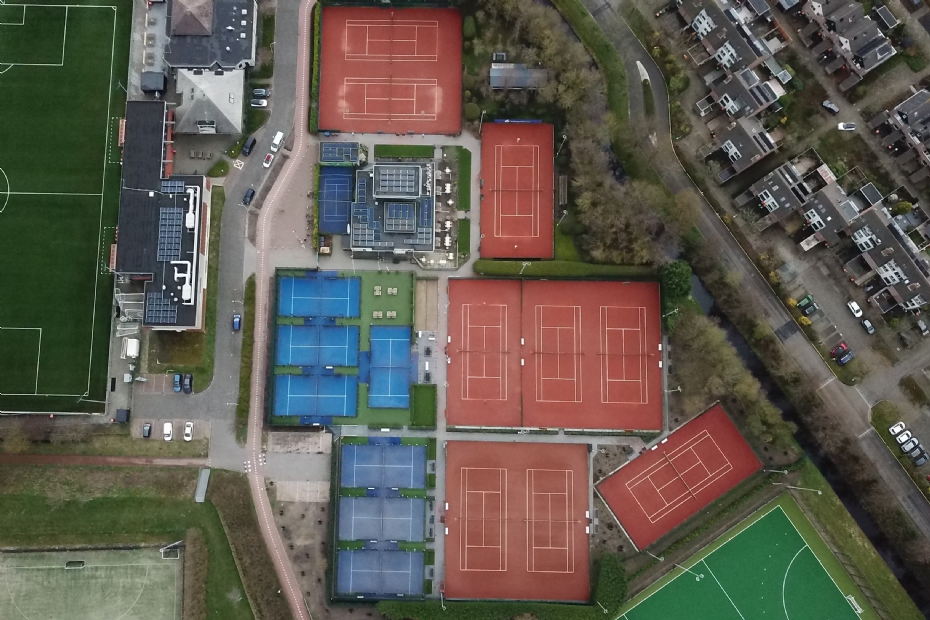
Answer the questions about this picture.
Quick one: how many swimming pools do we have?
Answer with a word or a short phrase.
0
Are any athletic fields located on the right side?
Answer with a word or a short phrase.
Yes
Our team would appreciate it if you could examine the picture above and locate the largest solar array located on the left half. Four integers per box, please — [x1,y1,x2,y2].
[158,208,182,261]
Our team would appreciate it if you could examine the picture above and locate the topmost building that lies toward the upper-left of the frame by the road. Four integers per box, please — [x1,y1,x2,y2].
[163,0,261,74]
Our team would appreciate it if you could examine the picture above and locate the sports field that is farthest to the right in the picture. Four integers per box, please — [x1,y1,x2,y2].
[601,492,884,620]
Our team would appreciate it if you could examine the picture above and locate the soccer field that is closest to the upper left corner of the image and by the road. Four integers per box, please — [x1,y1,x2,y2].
[0,0,133,411]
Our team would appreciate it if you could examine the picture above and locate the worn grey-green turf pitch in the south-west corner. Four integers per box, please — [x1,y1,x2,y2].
[0,546,183,620]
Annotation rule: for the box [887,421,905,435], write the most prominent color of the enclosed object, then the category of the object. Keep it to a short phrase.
white vehicle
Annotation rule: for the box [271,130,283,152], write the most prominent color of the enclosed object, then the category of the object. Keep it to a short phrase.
white vehicle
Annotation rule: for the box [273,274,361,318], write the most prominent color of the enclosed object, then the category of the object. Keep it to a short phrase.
blue sports court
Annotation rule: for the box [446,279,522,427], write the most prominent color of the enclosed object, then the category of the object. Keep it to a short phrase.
red tennis court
